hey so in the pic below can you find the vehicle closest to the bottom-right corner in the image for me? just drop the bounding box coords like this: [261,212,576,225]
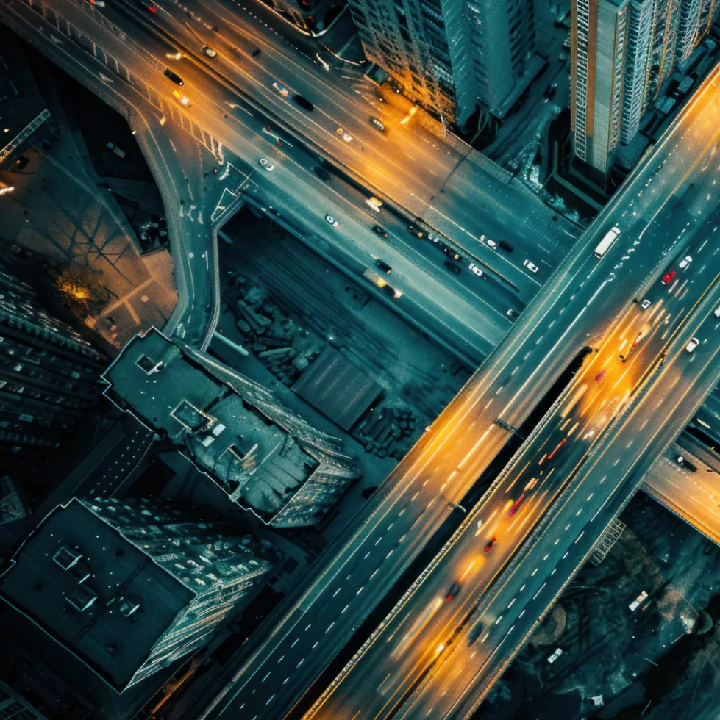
[630,593,647,611]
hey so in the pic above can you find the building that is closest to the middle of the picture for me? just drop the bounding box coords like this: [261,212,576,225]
[291,348,388,431]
